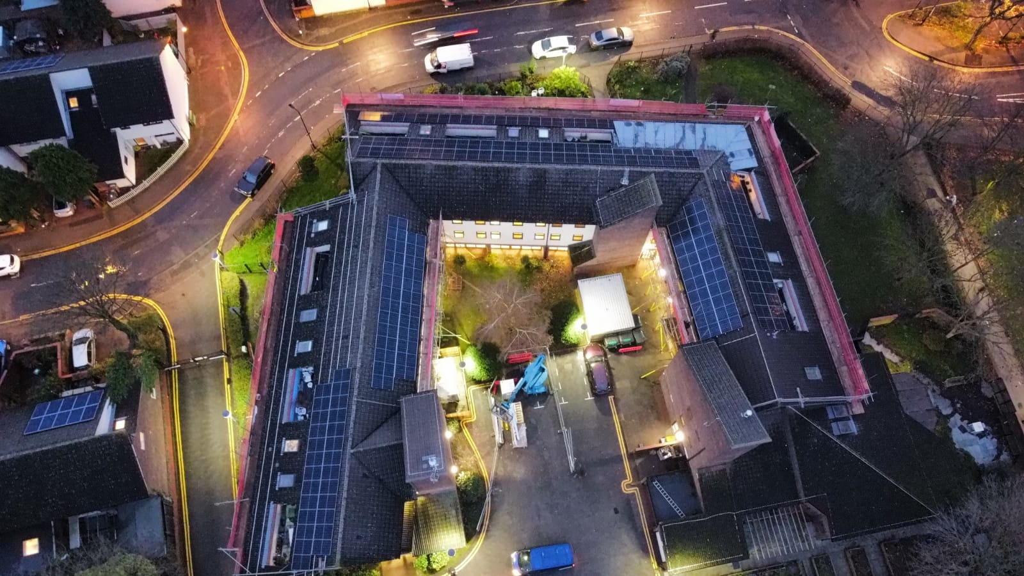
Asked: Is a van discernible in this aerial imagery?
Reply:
Yes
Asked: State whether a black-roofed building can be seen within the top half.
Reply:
Yes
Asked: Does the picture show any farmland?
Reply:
No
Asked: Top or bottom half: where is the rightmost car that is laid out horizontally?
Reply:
top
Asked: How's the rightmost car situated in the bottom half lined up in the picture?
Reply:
from top to bottom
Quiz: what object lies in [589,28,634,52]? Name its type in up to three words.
car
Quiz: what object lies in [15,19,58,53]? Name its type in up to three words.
shed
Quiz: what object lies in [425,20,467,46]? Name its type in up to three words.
car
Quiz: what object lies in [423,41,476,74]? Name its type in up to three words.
van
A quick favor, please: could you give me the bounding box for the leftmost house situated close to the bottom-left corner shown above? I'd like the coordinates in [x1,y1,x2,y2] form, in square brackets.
[0,379,176,576]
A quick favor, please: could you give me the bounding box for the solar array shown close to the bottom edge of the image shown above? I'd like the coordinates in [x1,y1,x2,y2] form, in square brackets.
[292,366,353,571]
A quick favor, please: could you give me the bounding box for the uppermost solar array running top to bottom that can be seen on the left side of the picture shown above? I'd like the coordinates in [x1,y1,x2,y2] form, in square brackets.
[372,215,424,390]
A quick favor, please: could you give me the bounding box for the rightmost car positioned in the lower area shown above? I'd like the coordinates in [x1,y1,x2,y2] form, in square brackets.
[583,344,611,399]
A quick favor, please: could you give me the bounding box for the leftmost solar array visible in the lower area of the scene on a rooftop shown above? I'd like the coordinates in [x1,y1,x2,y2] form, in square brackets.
[25,392,104,435]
